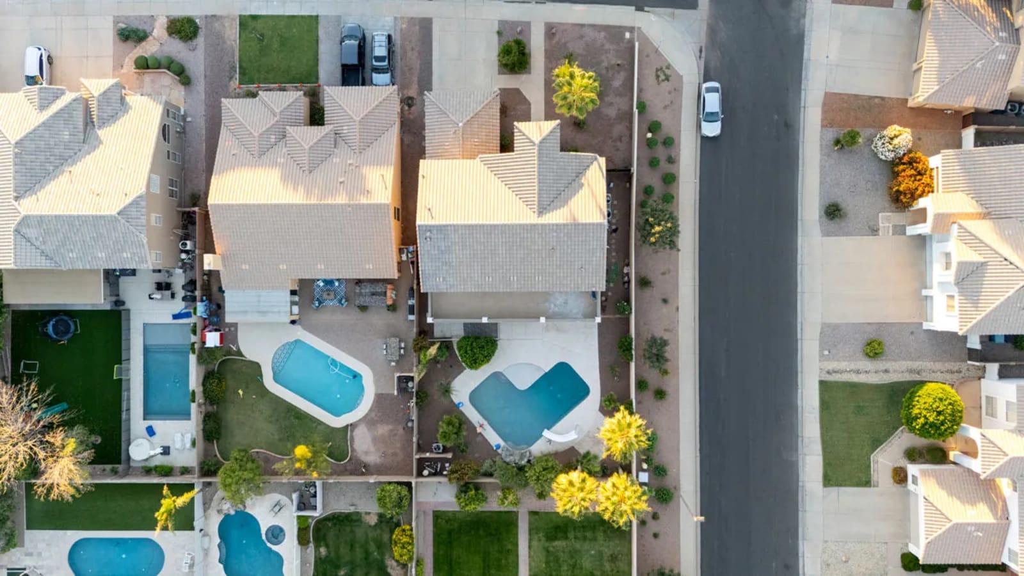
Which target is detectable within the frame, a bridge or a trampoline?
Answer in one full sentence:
Visible in the photo is a trampoline.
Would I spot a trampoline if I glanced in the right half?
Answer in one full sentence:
No, no trampoline appears in the right half.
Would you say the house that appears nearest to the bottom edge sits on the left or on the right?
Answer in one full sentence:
The house that appears nearest to the bottom edge appears in the right half of the scene.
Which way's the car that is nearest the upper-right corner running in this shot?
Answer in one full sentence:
The car that is nearest the upper-right corner is oriented up and down.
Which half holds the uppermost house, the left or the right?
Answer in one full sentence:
It is on the right.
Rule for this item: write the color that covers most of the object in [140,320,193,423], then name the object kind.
blue swimming pool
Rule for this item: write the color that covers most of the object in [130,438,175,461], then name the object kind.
white umbrella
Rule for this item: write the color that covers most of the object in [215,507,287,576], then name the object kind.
blue swimming pool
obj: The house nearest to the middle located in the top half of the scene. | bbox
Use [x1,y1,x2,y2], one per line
[417,89,607,322]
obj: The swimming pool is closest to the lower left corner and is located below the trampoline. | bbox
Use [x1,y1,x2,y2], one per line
[65,535,167,576]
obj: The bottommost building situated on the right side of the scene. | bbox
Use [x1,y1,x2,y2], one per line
[907,379,1024,576]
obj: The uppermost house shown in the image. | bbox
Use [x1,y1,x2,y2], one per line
[909,0,1024,110]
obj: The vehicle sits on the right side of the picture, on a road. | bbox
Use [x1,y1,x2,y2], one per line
[701,80,727,136]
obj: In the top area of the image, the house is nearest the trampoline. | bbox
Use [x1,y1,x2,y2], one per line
[0,78,183,305]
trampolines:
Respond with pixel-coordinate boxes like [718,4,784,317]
[36,312,79,342]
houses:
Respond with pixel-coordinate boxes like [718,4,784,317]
[907,379,1024,576]
[909,0,1024,110]
[417,89,607,322]
[907,142,1024,348]
[0,78,183,305]
[203,85,401,322]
